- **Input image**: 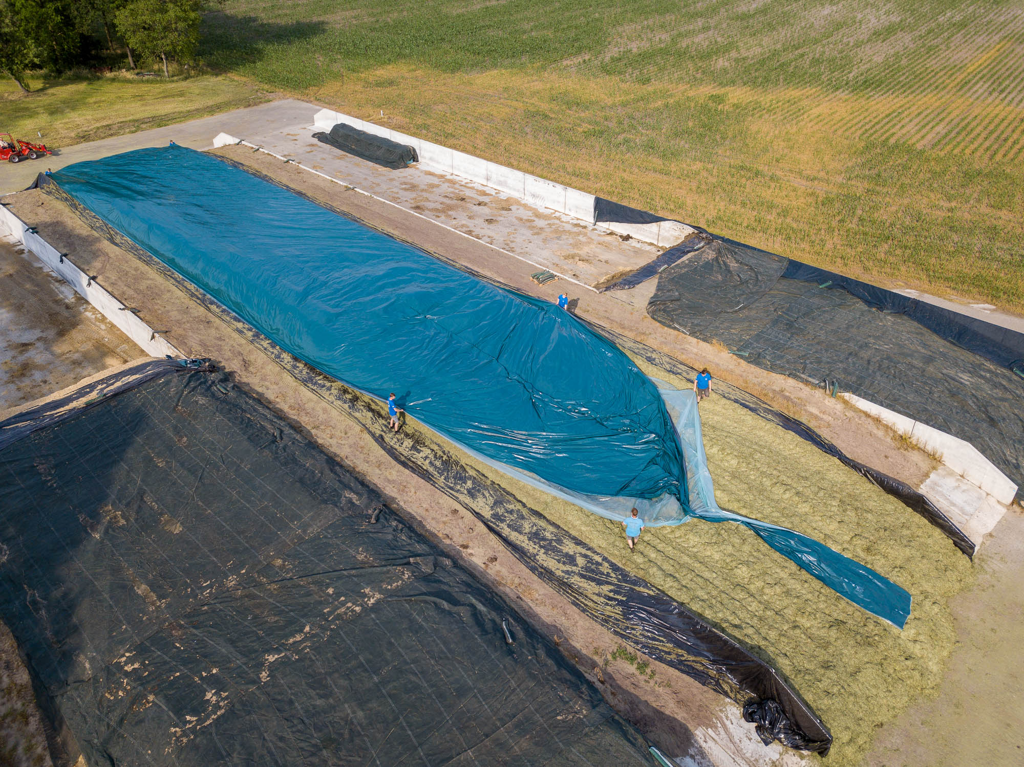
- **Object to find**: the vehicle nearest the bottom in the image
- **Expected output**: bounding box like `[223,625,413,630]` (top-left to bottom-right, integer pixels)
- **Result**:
[0,131,53,162]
